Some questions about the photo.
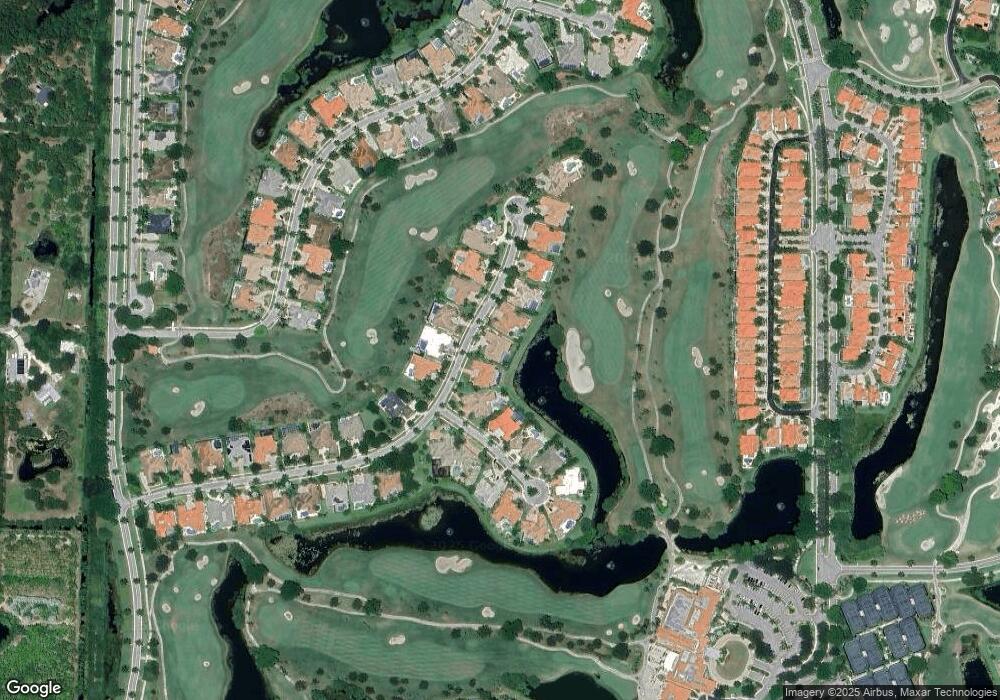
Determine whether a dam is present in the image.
No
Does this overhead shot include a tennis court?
Yes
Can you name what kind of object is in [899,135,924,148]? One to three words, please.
house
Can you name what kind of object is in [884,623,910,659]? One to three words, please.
tennis court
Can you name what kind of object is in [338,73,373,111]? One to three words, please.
house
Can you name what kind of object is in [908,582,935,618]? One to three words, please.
tennis court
